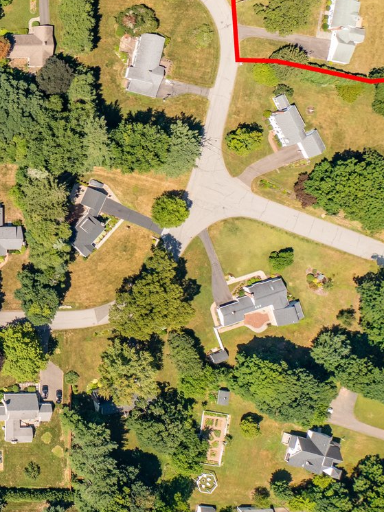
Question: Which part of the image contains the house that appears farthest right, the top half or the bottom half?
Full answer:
The house that appears farthest right sits in the top half of the picture.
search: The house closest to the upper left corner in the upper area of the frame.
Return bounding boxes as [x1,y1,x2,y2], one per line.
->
[7,23,55,67]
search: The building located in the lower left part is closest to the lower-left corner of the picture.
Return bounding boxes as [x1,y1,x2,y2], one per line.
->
[0,391,55,444]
